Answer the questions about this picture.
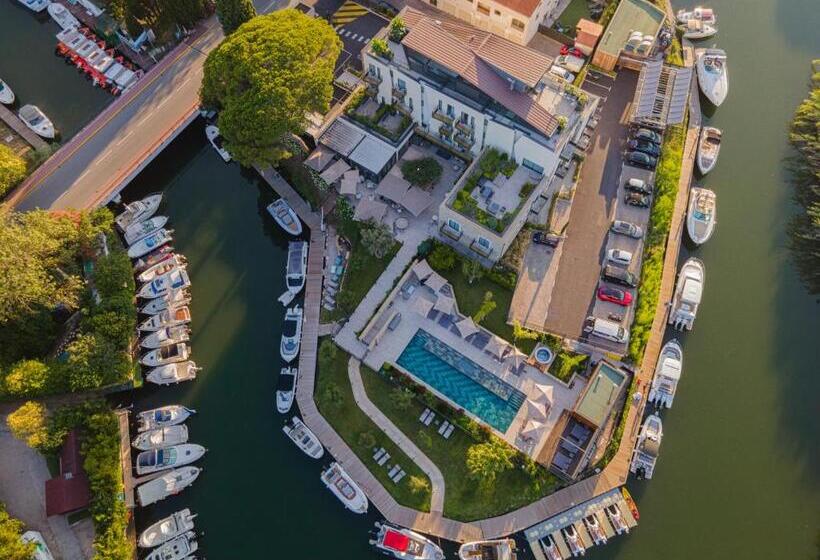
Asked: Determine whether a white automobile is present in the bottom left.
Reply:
No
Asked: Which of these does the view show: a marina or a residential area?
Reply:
marina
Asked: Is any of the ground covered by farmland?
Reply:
No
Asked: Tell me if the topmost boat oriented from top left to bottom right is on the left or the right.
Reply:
left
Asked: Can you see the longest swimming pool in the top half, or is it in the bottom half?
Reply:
bottom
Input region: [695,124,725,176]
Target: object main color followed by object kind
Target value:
white boat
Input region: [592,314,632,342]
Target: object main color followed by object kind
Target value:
white van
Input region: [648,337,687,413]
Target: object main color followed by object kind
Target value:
white boat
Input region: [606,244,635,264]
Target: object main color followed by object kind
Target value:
white car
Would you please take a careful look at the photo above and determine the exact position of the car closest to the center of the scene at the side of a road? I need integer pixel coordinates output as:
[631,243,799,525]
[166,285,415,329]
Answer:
[533,229,562,249]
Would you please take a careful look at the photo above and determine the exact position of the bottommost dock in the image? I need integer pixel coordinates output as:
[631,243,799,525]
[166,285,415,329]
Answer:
[524,489,637,560]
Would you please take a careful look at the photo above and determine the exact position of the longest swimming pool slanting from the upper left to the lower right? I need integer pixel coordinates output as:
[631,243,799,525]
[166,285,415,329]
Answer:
[392,324,529,437]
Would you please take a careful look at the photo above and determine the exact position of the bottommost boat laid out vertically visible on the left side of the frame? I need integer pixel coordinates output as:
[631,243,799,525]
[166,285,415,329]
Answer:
[276,365,298,416]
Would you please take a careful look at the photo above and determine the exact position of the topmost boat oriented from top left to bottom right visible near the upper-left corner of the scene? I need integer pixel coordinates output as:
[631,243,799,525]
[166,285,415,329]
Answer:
[46,0,83,30]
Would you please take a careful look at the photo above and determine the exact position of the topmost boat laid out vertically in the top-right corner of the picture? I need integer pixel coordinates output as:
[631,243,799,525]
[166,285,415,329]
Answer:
[696,45,730,109]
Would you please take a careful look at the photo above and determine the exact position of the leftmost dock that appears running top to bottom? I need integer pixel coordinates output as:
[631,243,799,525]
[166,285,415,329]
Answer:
[117,408,138,560]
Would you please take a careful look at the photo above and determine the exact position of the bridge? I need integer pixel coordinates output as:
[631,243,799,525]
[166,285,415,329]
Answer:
[0,0,323,300]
